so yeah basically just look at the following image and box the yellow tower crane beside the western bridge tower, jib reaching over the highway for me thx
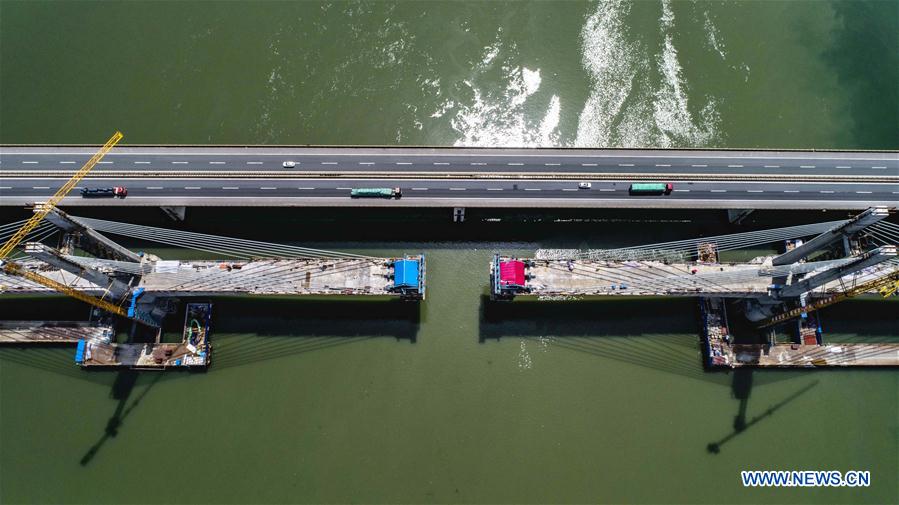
[0,131,157,328]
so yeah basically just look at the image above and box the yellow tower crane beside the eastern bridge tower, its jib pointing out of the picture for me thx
[756,264,899,330]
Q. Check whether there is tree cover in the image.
No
